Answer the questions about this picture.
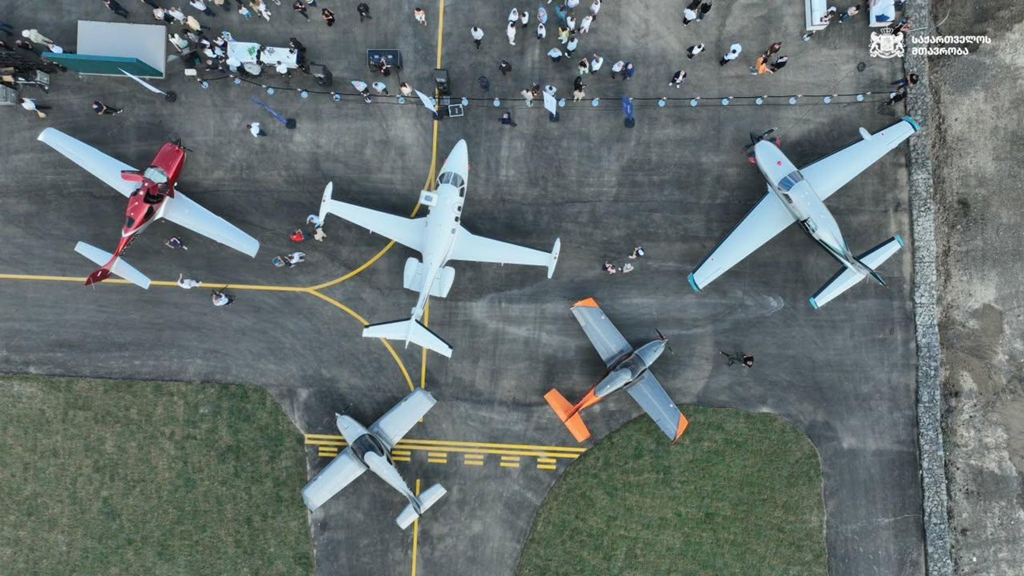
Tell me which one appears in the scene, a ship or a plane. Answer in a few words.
plane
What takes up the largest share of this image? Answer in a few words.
paved ground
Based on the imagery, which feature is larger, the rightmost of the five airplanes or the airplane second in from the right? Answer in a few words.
the rightmost of the five airplanes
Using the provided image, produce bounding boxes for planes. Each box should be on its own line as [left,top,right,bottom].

[303,388,445,533]
[546,298,688,443]
[320,138,560,357]
[688,117,920,308]
[37,127,261,287]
